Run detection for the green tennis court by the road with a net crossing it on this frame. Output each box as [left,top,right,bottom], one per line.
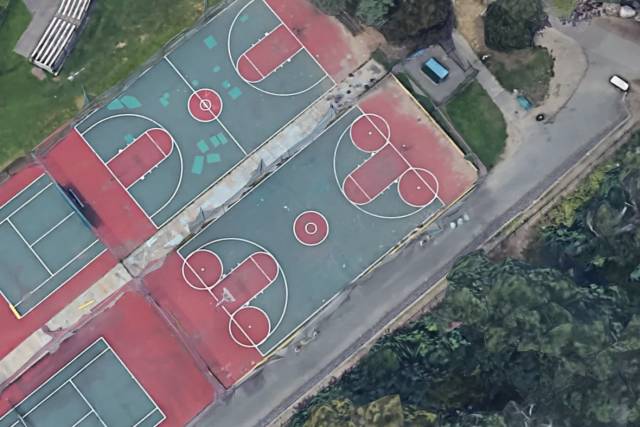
[0,279,226,427]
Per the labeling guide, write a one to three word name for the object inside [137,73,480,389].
basketball court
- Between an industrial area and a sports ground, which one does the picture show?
sports ground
